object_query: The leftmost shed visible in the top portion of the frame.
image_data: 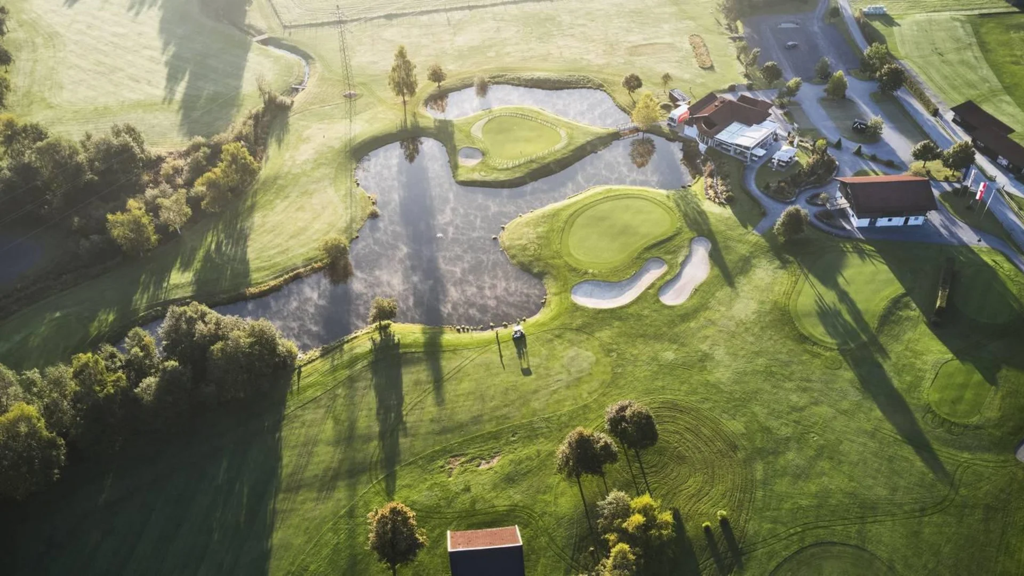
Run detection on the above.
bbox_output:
[669,88,697,106]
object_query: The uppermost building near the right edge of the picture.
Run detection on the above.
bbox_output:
[950,97,1024,143]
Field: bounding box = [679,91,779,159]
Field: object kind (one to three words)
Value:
building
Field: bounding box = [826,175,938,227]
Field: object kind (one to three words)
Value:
barn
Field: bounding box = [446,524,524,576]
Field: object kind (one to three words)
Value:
shed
